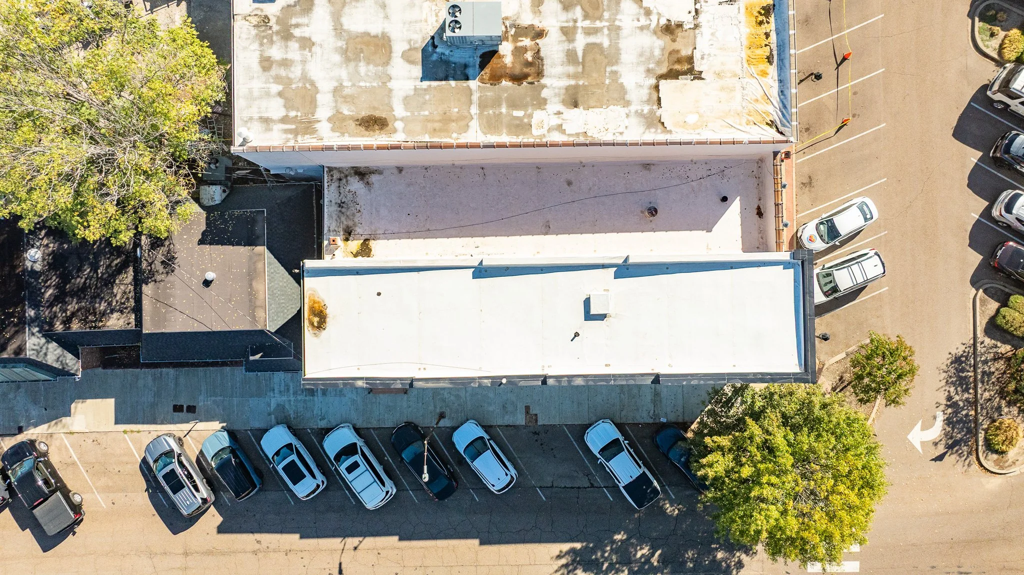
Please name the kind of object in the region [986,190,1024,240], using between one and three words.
car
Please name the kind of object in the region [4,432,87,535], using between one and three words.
truck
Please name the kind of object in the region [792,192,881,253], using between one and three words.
car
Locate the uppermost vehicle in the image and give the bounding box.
[980,62,1024,122]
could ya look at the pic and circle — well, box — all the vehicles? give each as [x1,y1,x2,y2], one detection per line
[4,432,87,535]
[323,422,398,513]
[585,417,663,512]
[985,128,1024,181]
[980,62,1024,122]
[814,247,888,304]
[452,416,520,497]
[390,418,461,505]
[986,190,1024,240]
[146,431,217,518]
[199,425,266,506]
[792,192,881,253]
[984,241,1024,293]
[262,424,329,503]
